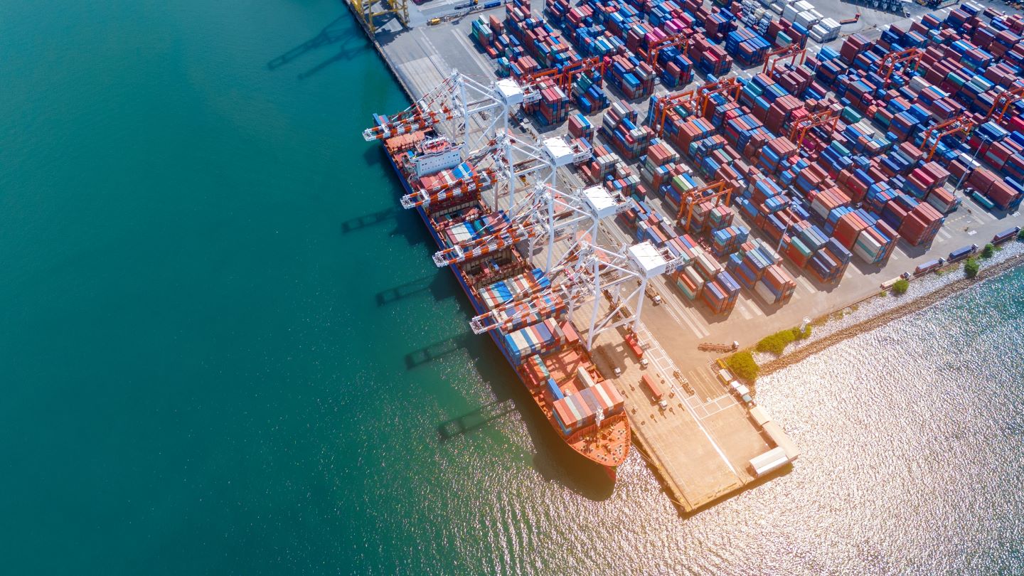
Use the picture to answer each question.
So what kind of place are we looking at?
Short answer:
port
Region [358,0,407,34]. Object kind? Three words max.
container crane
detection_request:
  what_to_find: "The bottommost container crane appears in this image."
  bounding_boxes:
[467,237,682,356]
